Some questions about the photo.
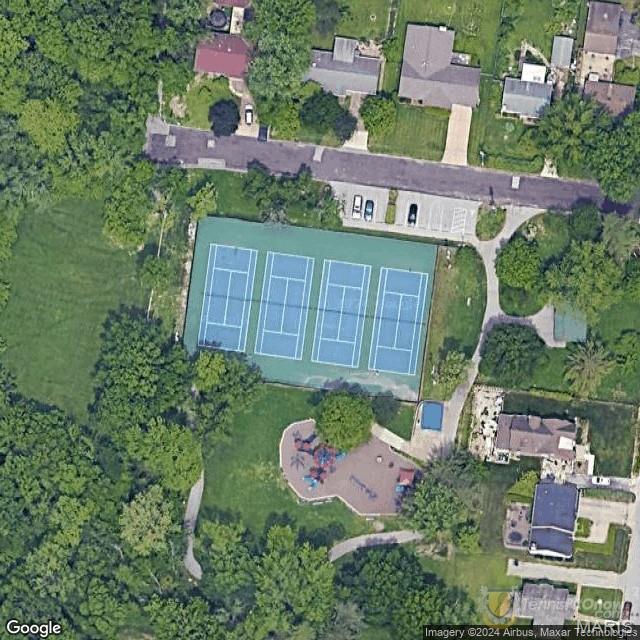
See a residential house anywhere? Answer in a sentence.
Yes, the photo shows a residential house.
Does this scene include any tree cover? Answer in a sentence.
Yes, some tree cover is visible.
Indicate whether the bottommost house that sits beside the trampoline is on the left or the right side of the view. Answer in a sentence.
The bottommost house that sits beside the trampoline sits on the left side.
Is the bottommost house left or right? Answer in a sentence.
The bottommost house sits on the right side.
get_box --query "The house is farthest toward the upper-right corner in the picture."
[584,1,622,56]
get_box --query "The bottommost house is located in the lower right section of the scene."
[511,584,577,640]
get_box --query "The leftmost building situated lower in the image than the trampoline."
[194,31,249,79]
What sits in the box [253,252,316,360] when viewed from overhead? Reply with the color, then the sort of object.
blue tennis court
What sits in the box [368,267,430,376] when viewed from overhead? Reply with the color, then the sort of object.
blue tennis court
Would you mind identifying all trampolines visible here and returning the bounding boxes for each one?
[209,9,227,26]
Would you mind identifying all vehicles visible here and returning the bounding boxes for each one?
[592,476,611,486]
[408,202,418,226]
[365,199,375,221]
[352,194,363,218]
[258,121,268,141]
[244,104,253,124]
[622,600,632,620]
